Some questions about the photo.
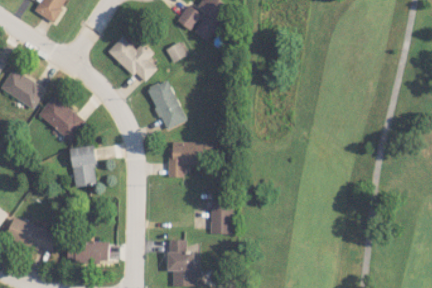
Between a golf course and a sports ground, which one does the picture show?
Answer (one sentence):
It's a golf course.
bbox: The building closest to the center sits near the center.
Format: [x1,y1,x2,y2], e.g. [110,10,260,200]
[172,143,215,178]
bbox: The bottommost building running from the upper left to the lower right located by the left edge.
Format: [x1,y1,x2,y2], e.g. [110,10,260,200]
[9,218,52,254]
